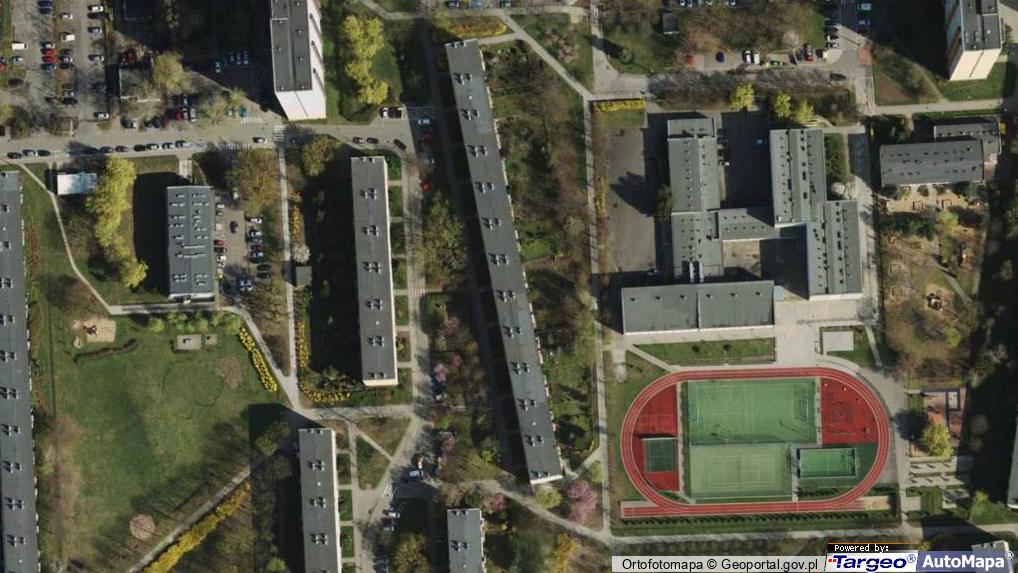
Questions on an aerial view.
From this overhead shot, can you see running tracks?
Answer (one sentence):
Yes, the frame does contain a running track.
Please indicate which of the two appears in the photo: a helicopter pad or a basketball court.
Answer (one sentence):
I can see a basketball court in this picture.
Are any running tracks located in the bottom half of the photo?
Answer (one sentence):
Yes, there is a running track in the bottom half of the photo.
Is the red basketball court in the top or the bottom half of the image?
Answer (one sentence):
The red basketball court is in the bottom half of the image.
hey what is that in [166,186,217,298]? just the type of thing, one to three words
building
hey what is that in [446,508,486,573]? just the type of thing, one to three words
building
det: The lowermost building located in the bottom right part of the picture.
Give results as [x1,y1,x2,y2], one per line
[966,542,1008,573]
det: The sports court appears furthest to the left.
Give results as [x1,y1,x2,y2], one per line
[644,439,676,472]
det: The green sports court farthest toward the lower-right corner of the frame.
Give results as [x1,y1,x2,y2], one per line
[800,447,859,478]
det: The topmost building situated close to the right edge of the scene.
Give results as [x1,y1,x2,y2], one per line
[946,0,1001,86]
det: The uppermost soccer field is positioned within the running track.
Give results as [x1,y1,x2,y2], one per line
[688,379,816,445]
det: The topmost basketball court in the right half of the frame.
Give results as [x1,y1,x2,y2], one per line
[821,379,877,444]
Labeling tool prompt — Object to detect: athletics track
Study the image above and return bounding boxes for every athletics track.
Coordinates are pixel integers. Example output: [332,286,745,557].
[620,368,889,521]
